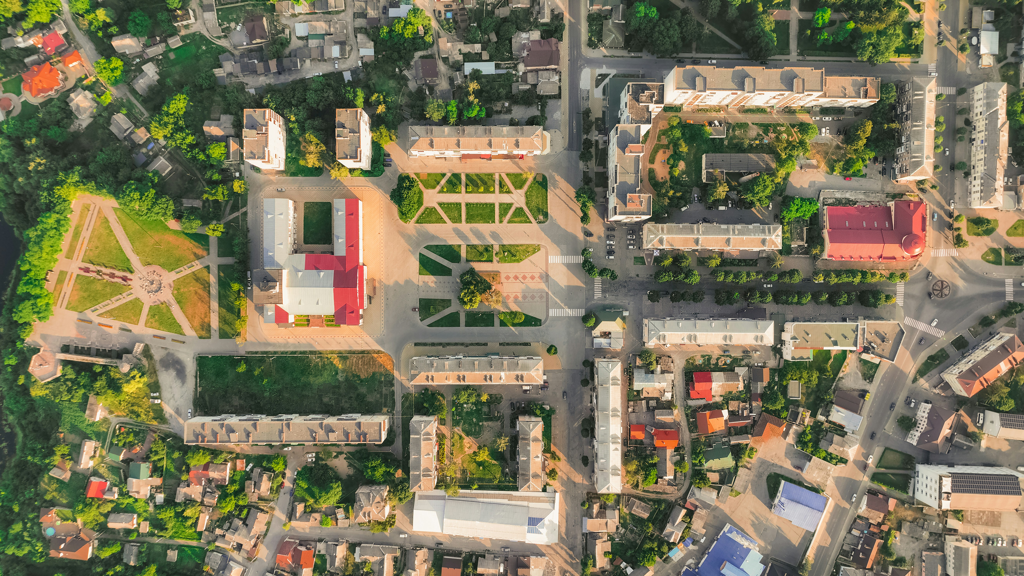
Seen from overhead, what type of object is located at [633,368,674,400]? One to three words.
house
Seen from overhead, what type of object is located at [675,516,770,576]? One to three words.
building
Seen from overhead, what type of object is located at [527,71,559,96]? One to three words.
house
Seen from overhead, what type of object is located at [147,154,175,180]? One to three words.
shed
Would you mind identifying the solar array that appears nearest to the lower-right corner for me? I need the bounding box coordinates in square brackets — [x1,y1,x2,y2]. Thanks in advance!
[950,474,1020,495]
